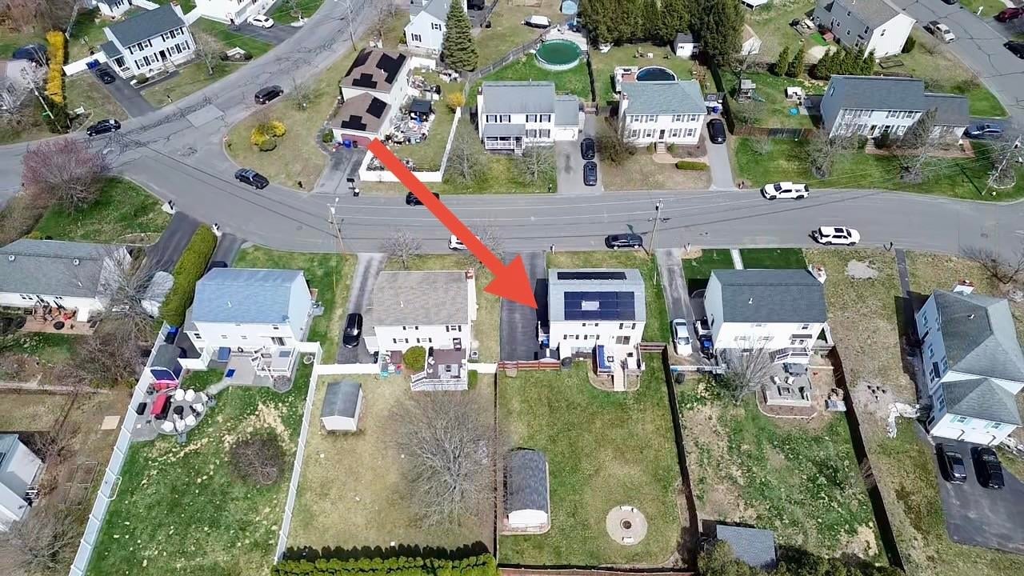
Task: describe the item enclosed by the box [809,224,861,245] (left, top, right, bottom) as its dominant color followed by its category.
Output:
white car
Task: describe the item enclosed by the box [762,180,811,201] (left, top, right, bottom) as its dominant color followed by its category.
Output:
white truck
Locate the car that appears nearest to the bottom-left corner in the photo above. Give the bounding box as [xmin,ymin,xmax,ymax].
[340,309,365,349]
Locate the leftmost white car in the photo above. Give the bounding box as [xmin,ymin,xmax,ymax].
[246,15,275,30]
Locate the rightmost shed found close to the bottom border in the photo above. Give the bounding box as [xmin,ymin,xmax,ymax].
[717,527,783,576]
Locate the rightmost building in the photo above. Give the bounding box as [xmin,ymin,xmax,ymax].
[912,288,1024,438]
